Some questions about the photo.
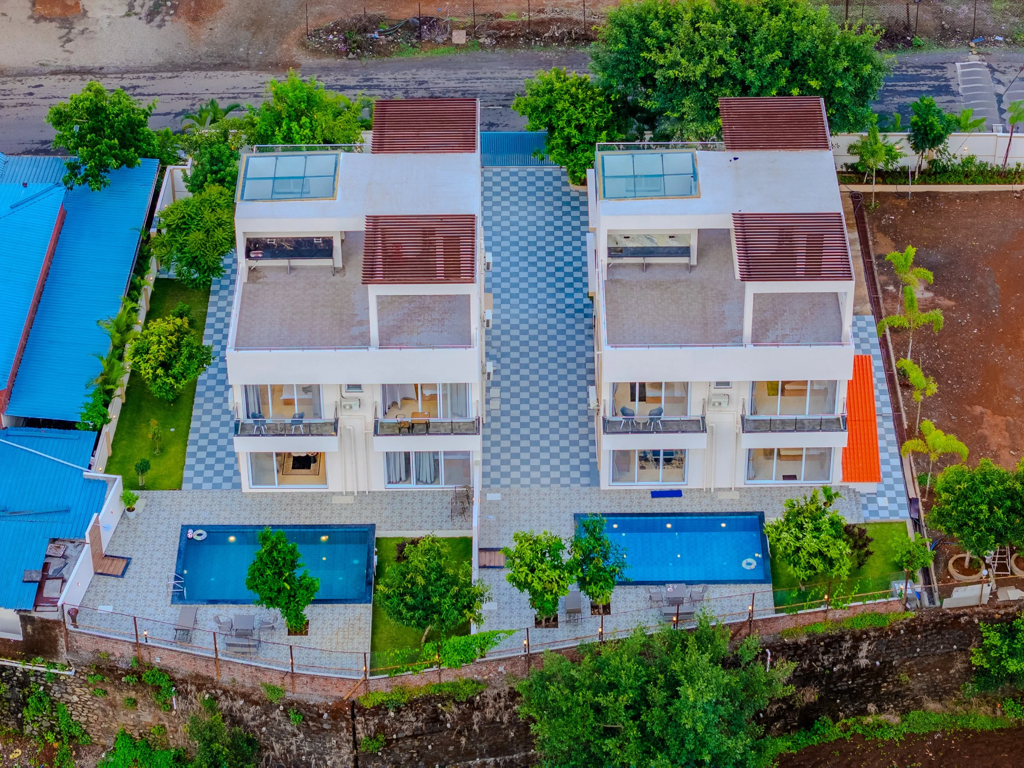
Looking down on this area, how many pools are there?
two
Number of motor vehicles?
0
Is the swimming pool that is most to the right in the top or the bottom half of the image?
bottom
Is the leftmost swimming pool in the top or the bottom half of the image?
bottom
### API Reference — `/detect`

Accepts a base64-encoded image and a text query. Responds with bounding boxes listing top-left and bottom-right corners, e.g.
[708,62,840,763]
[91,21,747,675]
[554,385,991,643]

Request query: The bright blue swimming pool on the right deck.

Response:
[574,511,772,585]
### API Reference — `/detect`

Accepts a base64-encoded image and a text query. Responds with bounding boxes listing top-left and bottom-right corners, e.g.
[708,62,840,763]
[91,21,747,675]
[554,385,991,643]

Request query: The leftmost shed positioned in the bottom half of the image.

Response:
[0,411,107,665]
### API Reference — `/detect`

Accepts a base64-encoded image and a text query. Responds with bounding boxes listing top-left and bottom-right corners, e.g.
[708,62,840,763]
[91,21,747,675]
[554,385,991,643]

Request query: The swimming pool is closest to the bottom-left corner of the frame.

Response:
[171,523,376,606]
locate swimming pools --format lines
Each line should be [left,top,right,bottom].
[171,523,376,606]
[574,511,772,585]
